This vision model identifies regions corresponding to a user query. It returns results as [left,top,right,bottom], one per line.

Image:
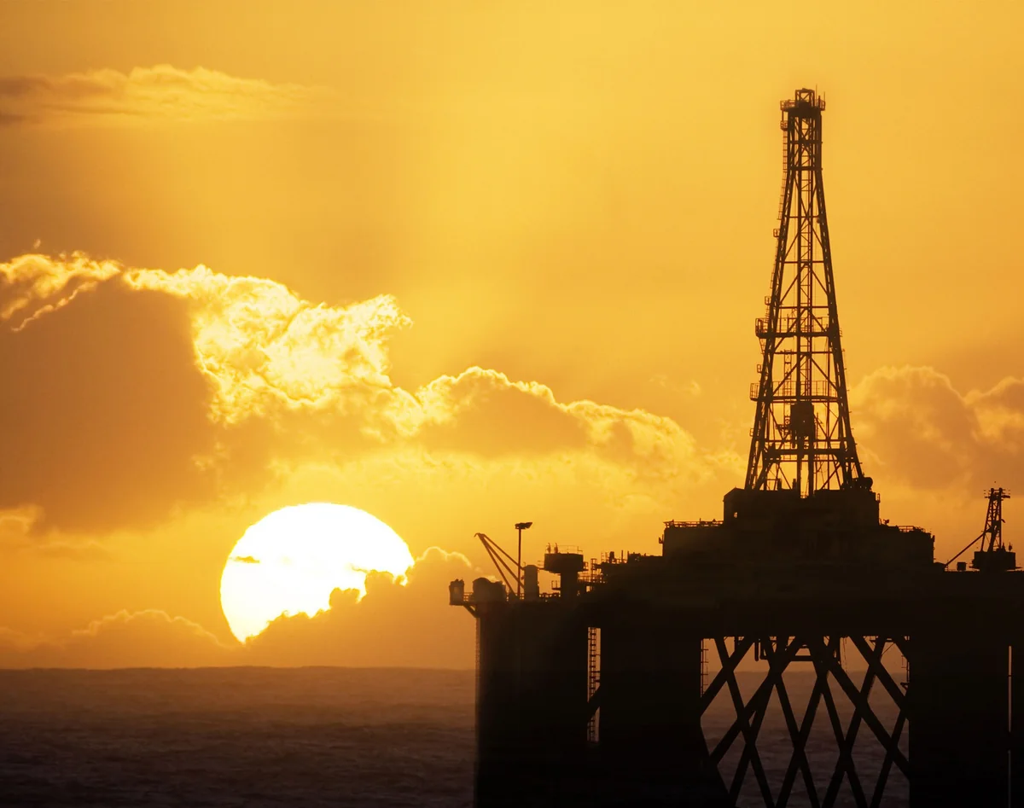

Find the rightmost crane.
[944,488,1017,571]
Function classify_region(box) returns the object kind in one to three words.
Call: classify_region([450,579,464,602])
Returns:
building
